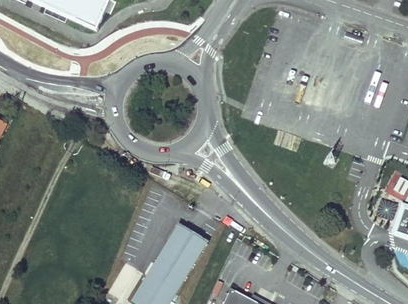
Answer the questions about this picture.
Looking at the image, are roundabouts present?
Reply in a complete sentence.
Yes, there's a roundabout here.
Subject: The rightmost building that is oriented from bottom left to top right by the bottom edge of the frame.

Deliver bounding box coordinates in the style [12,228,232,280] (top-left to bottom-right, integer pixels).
[132,223,210,304]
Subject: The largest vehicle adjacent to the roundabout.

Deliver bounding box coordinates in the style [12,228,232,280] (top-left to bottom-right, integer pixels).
[150,168,172,182]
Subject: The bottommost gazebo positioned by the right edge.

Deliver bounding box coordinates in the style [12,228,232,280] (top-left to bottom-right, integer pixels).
[377,200,398,220]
